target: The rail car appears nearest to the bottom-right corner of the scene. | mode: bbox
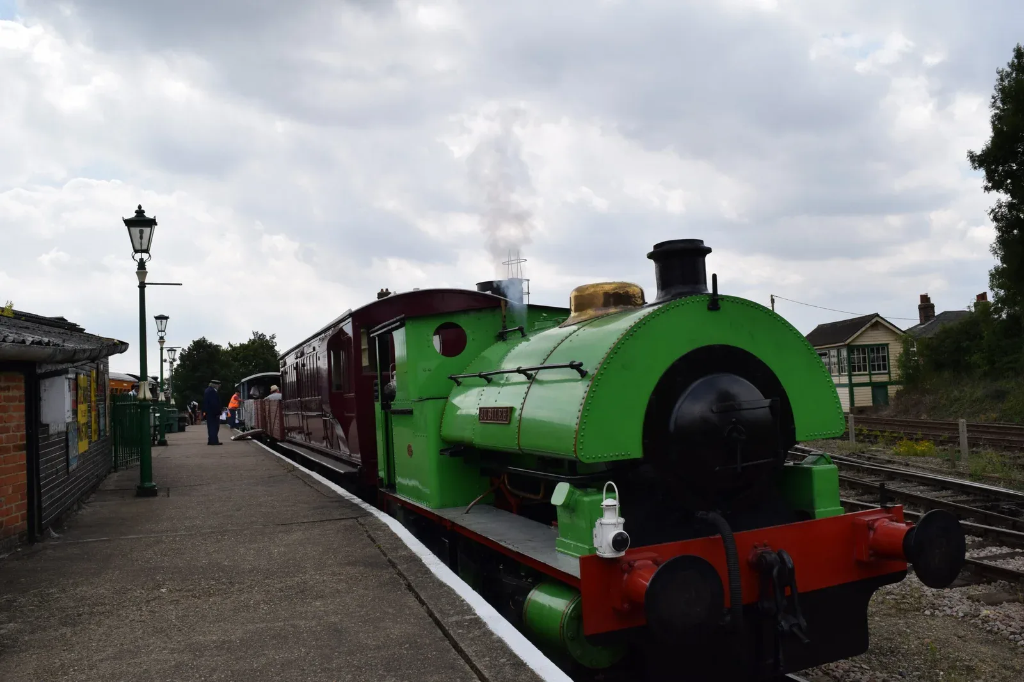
[365,240,964,682]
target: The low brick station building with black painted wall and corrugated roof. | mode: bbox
[0,307,137,566]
